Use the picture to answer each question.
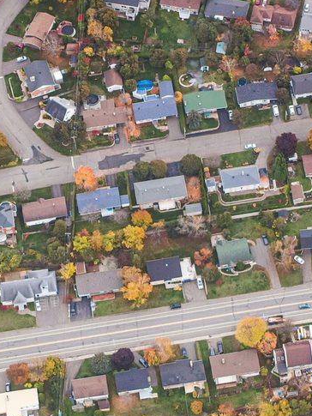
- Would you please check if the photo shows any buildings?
Yes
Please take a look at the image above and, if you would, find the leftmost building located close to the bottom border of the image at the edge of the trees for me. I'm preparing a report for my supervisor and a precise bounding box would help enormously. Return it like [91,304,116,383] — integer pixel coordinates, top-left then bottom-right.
[0,388,40,416]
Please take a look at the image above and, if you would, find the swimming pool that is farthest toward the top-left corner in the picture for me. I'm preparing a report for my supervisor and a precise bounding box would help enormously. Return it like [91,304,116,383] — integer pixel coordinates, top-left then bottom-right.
[60,24,75,38]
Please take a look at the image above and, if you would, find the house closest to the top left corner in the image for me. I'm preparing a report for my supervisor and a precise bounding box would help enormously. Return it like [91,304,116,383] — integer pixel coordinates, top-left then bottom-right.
[25,12,55,51]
